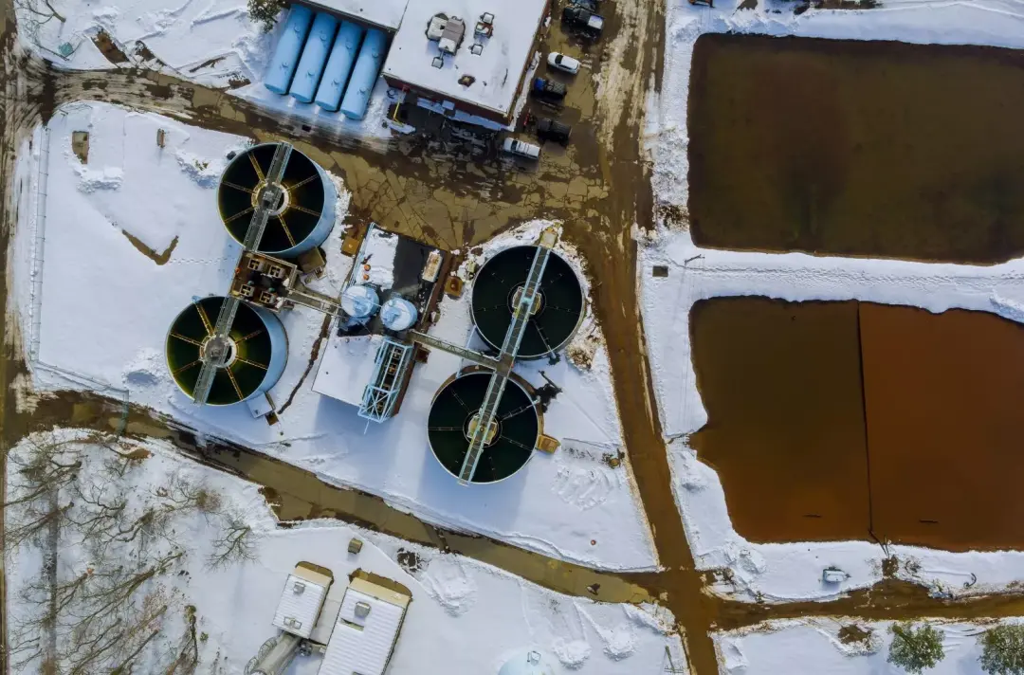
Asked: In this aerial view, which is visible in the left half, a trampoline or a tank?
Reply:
tank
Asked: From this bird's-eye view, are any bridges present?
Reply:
Yes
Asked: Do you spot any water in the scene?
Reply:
Yes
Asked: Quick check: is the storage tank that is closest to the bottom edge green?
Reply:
No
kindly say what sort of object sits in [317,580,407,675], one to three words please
house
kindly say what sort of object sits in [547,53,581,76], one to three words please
car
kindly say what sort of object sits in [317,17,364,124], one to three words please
storage tank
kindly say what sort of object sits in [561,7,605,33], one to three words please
truck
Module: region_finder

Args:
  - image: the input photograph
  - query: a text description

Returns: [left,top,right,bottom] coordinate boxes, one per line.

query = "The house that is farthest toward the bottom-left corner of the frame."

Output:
[273,566,333,638]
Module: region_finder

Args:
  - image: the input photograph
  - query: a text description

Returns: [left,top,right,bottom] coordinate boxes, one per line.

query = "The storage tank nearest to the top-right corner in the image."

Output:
[472,224,583,357]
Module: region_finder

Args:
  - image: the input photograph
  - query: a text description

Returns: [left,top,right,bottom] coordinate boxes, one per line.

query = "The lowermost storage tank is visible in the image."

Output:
[428,365,546,483]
